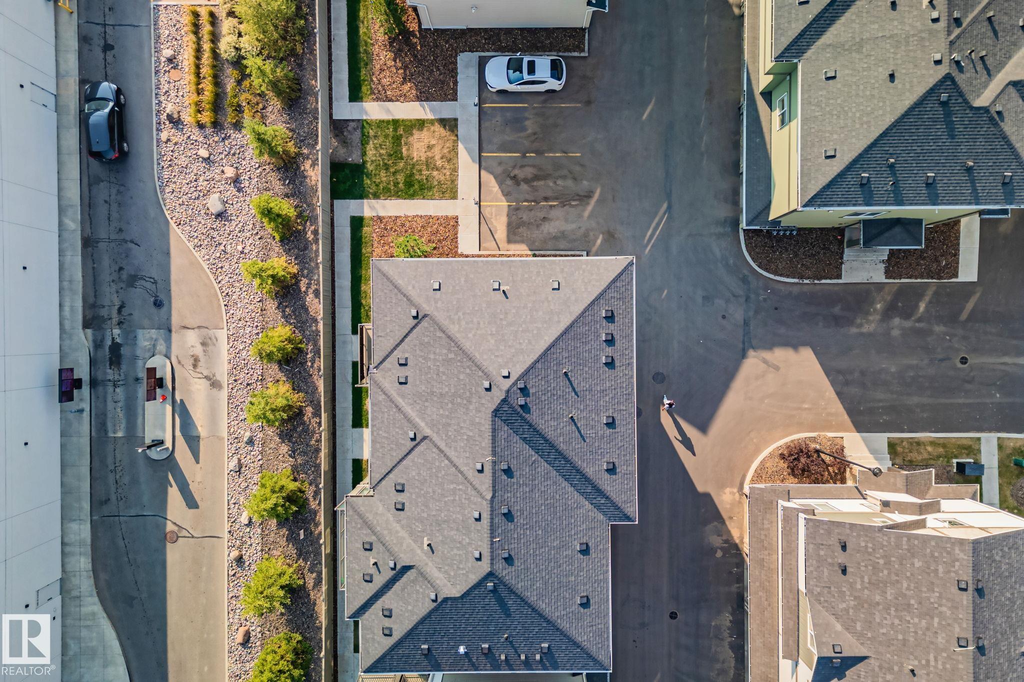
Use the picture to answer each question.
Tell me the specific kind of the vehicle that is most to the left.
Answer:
car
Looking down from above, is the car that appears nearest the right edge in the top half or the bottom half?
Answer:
top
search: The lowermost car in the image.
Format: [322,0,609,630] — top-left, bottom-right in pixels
[81,83,131,163]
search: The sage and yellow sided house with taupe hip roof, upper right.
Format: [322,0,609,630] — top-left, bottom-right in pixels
[734,0,1024,248]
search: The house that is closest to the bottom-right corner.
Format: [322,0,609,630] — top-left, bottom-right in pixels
[742,462,1024,682]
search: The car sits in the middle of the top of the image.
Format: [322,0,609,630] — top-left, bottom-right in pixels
[485,49,565,92]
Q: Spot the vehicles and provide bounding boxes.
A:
[485,49,565,92]
[81,83,131,163]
